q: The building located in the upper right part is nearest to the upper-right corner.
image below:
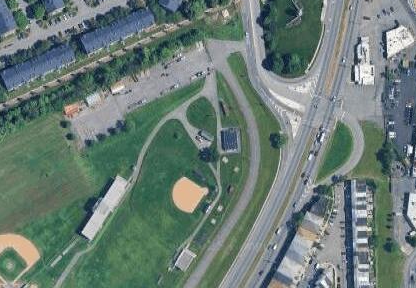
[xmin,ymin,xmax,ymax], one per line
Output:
[386,26,414,60]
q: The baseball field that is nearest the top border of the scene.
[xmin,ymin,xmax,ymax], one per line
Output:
[172,178,208,213]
